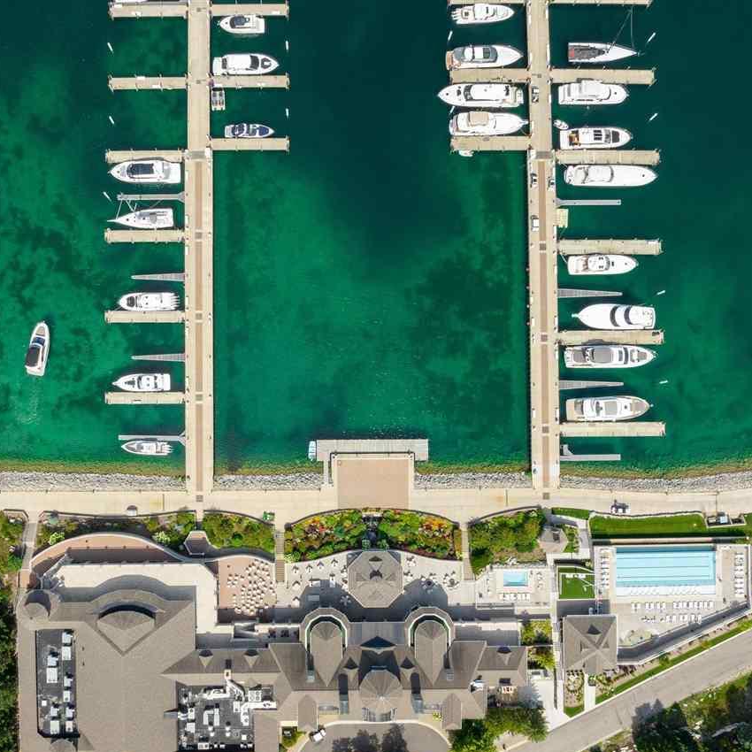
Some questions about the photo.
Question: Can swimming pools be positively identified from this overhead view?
Yes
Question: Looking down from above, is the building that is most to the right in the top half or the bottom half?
bottom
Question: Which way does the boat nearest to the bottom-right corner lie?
horizontally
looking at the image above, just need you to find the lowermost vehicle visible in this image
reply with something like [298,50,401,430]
[307,725,327,743]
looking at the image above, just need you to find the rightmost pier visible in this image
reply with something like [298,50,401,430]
[447,0,665,487]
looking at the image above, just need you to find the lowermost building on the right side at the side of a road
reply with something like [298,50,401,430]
[558,613,618,676]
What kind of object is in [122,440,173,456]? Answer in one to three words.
boat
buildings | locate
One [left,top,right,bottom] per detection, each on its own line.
[539,525,567,553]
[558,613,618,676]
[347,550,404,607]
[17,546,528,752]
